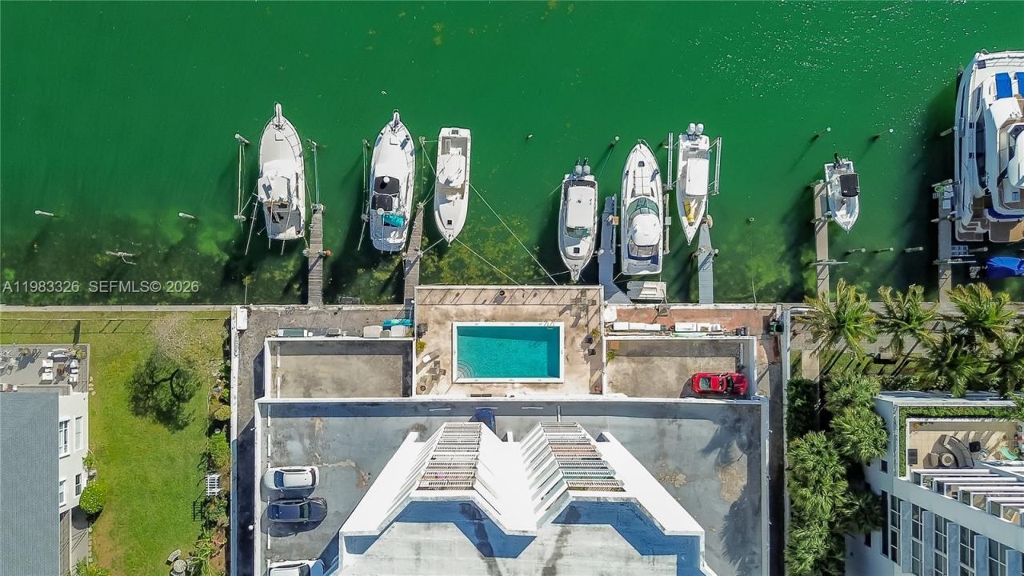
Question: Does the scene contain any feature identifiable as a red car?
Yes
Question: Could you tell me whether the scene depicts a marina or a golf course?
marina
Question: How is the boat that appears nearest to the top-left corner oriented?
from top to bottom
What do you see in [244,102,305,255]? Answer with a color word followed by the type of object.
white boat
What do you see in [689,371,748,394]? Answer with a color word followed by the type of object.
red car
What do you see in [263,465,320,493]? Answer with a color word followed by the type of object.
white car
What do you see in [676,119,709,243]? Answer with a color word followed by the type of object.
white boat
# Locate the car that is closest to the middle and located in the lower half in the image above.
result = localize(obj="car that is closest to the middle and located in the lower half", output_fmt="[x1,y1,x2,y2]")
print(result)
[473,403,499,436]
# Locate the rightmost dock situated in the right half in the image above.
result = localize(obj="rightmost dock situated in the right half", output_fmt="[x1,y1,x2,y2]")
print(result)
[918,184,952,302]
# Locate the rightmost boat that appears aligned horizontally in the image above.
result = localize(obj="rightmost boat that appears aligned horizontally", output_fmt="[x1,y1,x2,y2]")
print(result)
[964,257,1024,280]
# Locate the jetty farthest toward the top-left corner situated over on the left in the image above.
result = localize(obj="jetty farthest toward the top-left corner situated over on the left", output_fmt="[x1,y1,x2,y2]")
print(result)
[308,203,330,306]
